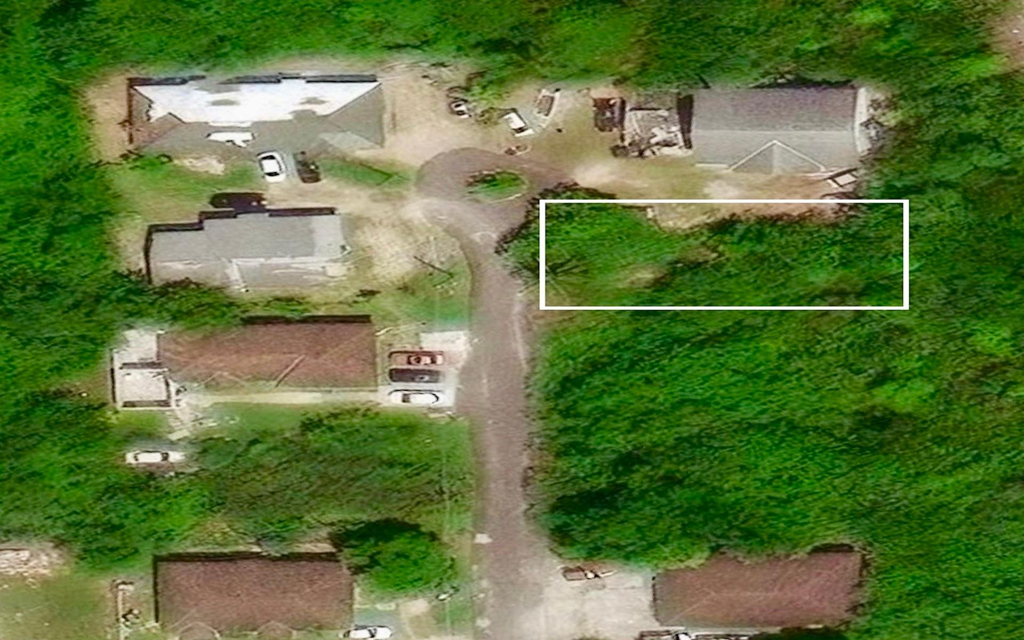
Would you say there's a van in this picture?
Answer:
Yes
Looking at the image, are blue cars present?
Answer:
No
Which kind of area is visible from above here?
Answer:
residential area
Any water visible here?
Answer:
No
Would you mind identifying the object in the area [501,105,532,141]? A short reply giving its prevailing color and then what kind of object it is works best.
white van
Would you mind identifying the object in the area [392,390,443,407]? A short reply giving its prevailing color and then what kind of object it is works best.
white car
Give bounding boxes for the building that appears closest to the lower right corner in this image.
[655,552,859,631]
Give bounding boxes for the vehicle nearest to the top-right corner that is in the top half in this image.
[593,96,620,134]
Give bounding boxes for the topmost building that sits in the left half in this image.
[132,80,387,152]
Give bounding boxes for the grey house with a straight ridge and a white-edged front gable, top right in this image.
[692,86,860,173]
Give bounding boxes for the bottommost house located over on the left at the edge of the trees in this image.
[157,557,355,640]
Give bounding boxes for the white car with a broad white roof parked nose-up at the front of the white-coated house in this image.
[258,150,286,185]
